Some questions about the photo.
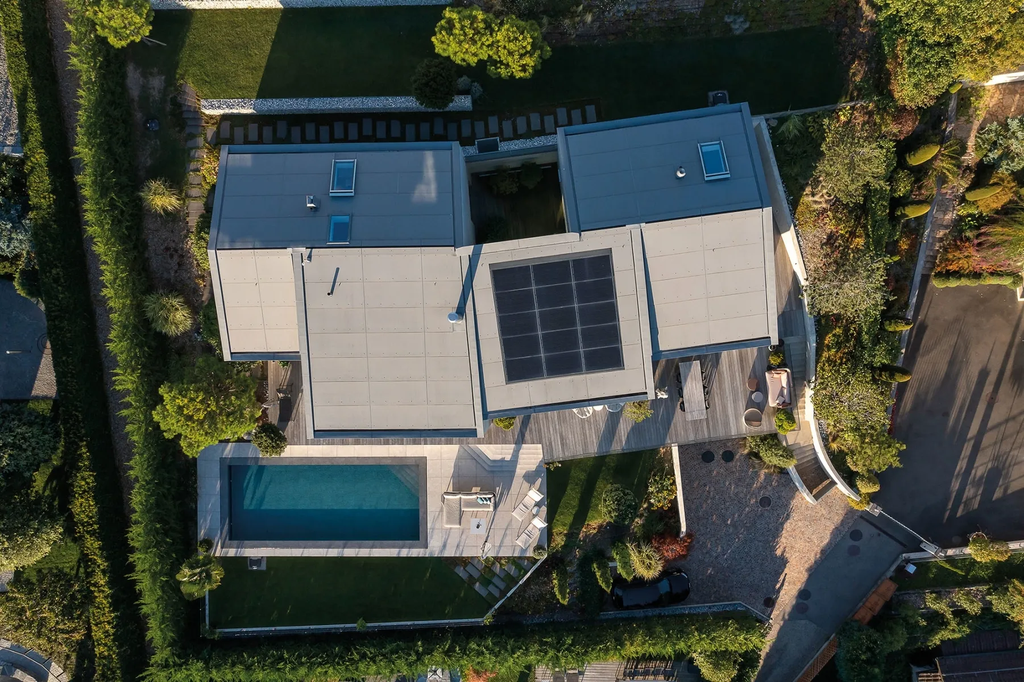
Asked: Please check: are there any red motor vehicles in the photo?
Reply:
No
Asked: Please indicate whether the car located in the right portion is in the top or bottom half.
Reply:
bottom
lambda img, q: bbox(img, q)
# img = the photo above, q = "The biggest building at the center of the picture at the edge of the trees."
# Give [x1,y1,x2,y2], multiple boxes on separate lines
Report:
[207,103,779,439]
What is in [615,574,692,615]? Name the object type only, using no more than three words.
car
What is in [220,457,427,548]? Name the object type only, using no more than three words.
swimming pool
